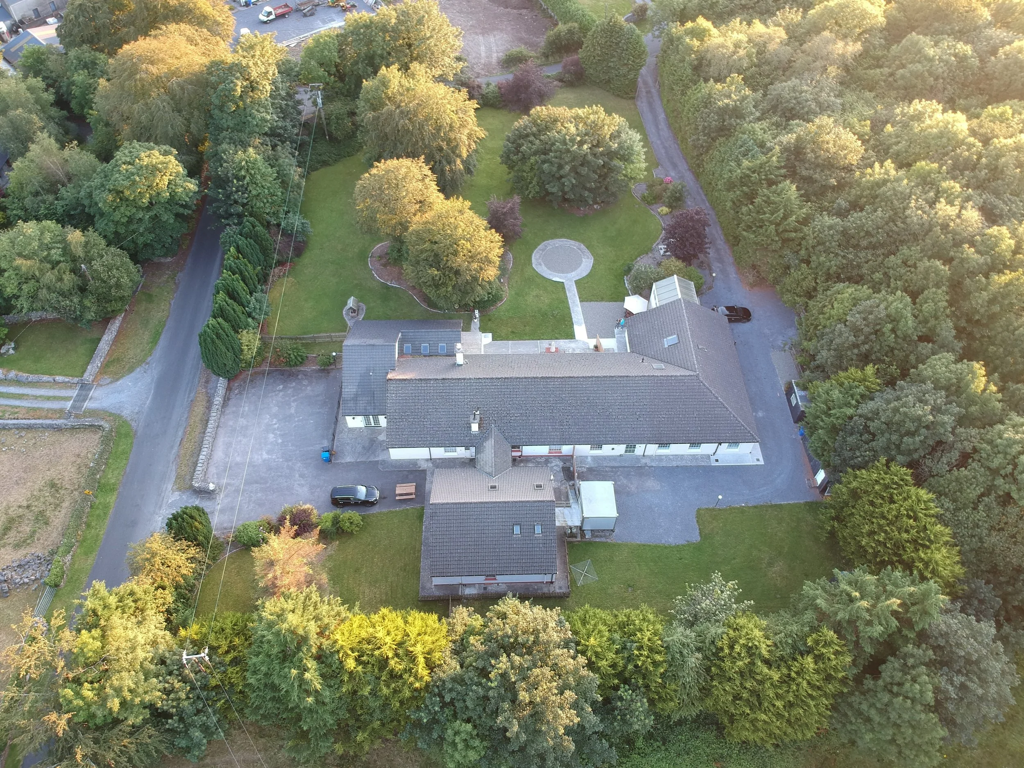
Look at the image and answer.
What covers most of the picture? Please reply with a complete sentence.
What you mostly see from above here is trees.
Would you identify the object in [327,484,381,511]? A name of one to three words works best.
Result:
car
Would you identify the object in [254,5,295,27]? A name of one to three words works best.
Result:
truck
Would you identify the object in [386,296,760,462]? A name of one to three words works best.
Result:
house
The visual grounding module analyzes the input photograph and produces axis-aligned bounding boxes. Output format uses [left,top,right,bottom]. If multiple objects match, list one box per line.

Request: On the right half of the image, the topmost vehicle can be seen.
[713,307,753,327]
